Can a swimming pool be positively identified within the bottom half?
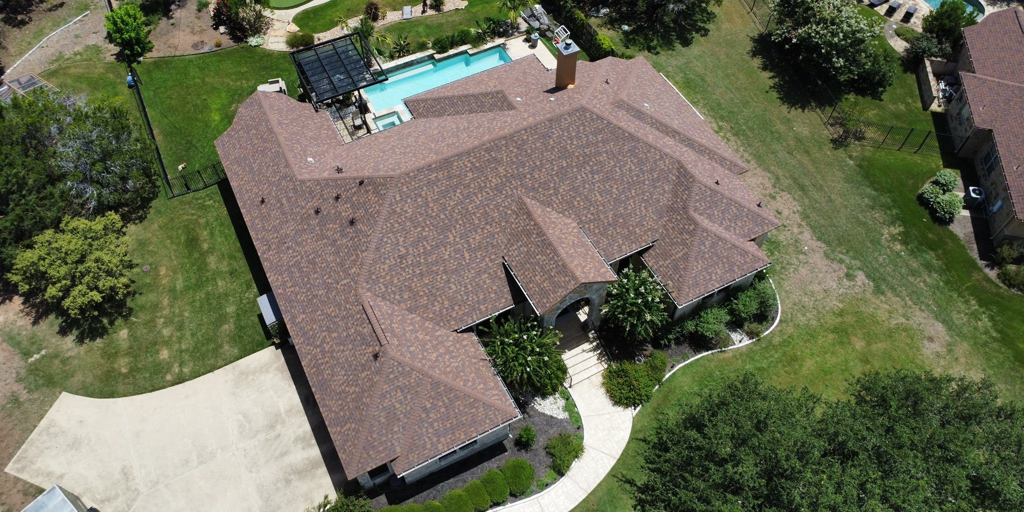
No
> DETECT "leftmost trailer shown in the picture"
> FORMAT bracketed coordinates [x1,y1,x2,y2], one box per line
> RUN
[20,483,90,512]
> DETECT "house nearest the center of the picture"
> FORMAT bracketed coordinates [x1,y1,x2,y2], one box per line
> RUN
[214,41,780,491]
